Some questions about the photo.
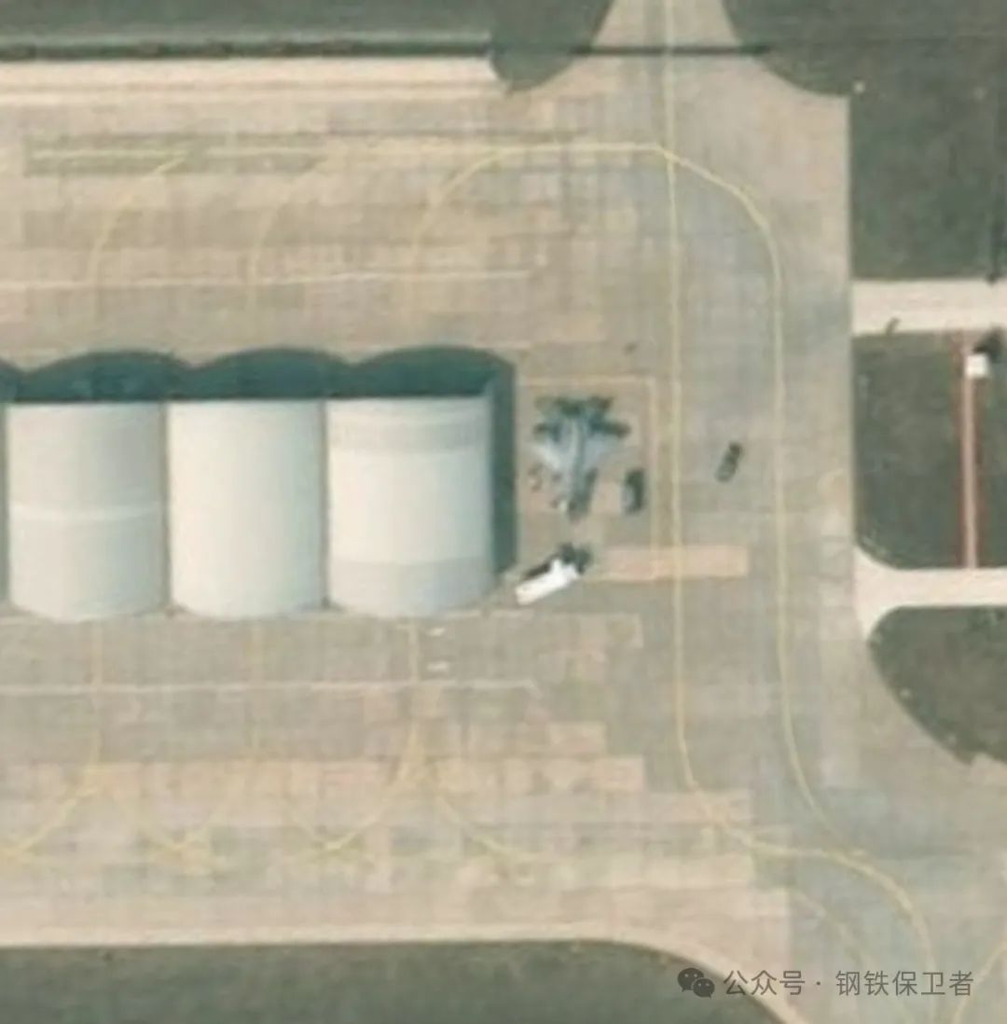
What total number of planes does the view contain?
one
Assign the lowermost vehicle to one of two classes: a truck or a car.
truck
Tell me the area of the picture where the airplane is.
center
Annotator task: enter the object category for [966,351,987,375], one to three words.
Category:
shed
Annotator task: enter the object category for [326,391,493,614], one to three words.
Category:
hangar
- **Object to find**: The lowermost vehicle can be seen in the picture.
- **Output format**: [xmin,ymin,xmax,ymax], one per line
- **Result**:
[515,552,583,603]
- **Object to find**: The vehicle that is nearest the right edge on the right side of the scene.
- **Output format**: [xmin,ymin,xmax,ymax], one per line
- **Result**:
[718,447,741,481]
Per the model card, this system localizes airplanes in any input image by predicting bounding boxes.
[534,407,619,524]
